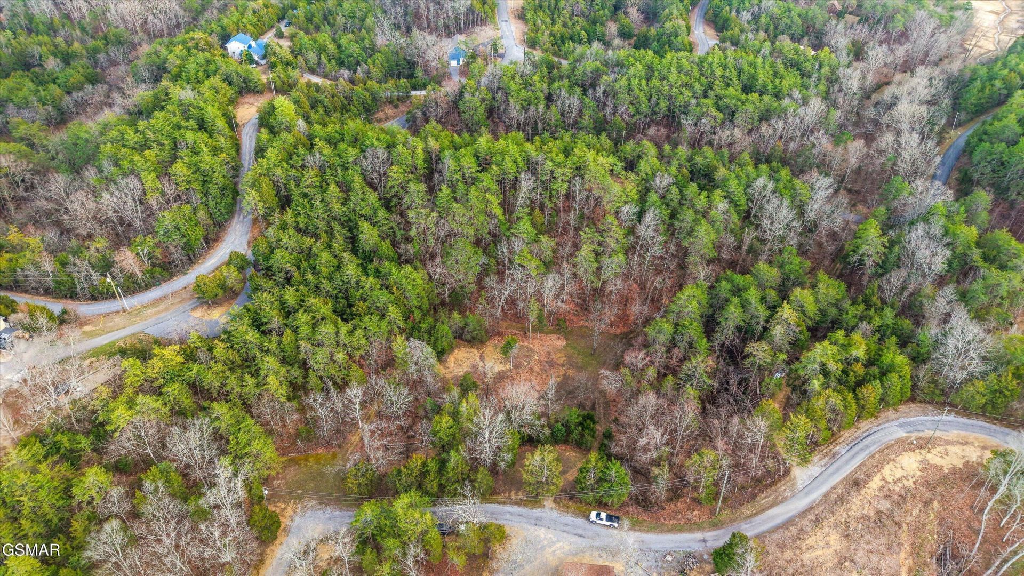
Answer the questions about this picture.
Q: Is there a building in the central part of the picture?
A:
No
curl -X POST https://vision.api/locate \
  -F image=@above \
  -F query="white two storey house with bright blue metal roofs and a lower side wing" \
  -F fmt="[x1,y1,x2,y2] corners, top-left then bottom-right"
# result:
[223,30,278,60]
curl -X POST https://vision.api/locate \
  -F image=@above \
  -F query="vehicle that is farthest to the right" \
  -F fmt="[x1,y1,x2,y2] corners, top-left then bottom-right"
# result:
[587,512,622,530]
